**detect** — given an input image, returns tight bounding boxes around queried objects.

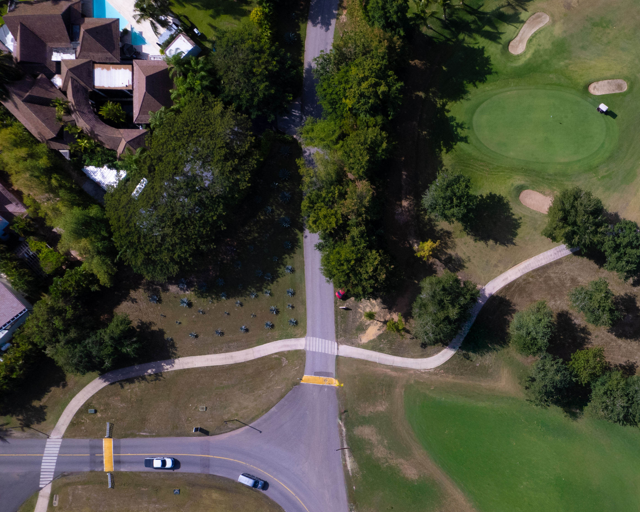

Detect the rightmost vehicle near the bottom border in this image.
[236,472,267,491]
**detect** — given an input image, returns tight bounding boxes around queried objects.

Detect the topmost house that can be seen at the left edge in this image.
[0,0,188,154]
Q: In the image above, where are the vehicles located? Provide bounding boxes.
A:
[144,457,176,470]
[236,472,267,491]
[334,285,351,301]
[596,104,609,117]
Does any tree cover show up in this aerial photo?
Yes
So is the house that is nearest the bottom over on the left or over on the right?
left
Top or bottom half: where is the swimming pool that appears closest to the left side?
top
